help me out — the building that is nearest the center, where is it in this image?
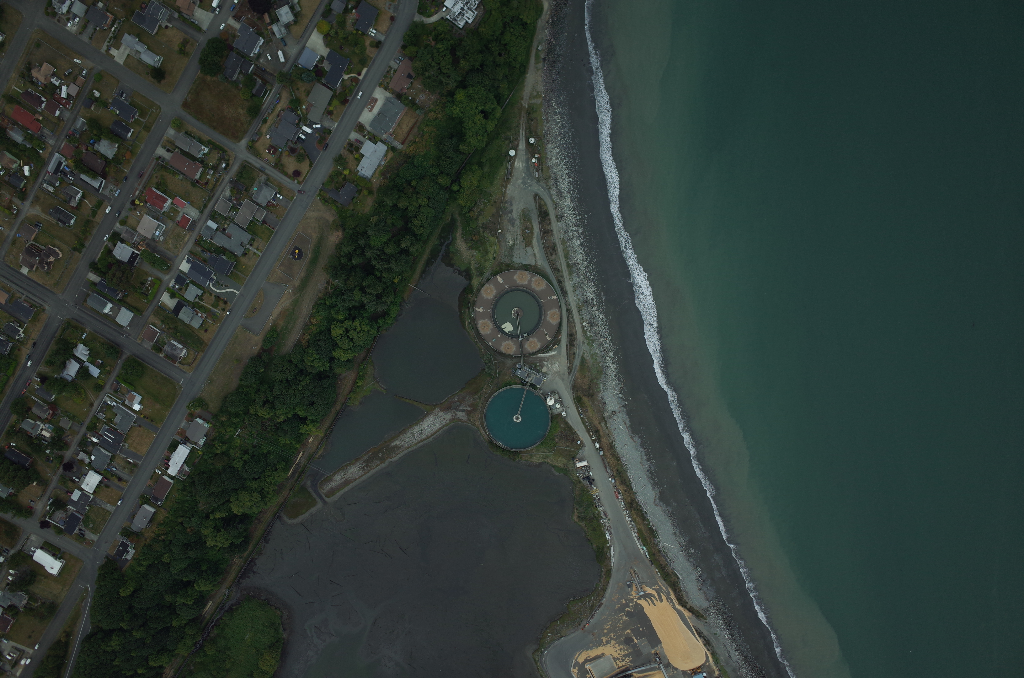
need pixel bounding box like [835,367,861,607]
[515,366,547,387]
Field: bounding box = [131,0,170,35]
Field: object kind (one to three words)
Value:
house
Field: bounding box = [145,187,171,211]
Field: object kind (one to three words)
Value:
house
